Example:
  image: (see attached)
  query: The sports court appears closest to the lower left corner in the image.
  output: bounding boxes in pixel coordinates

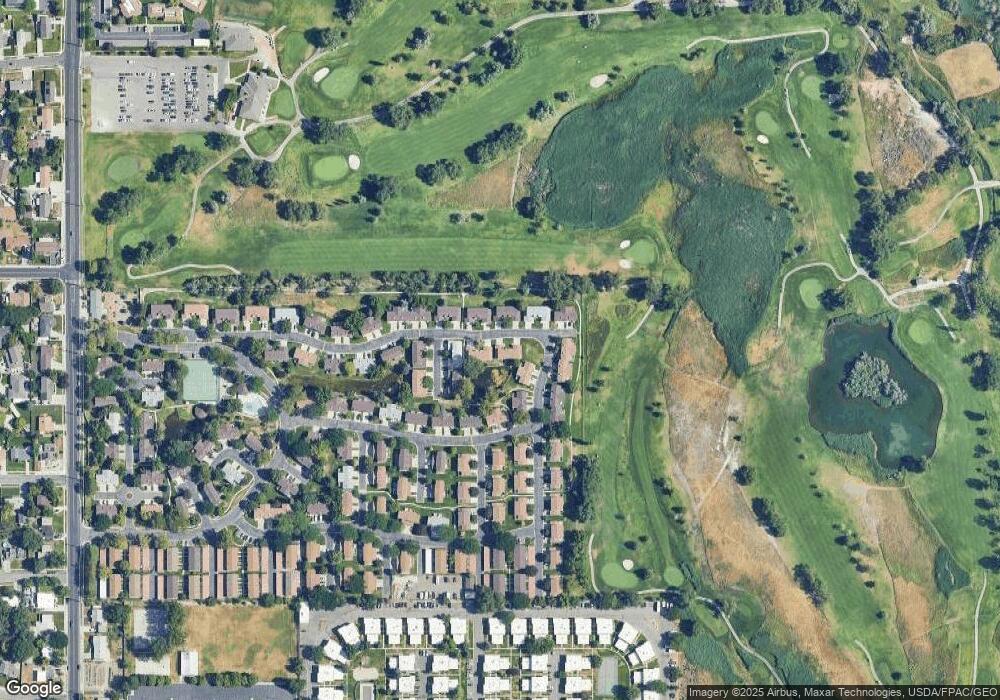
[134,608,170,676]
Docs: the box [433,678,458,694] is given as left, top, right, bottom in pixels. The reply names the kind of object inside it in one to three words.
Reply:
house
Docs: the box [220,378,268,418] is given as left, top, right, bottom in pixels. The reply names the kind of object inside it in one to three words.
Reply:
swimming pool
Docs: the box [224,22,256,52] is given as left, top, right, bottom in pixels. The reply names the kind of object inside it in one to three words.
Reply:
building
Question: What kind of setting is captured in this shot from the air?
golf course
